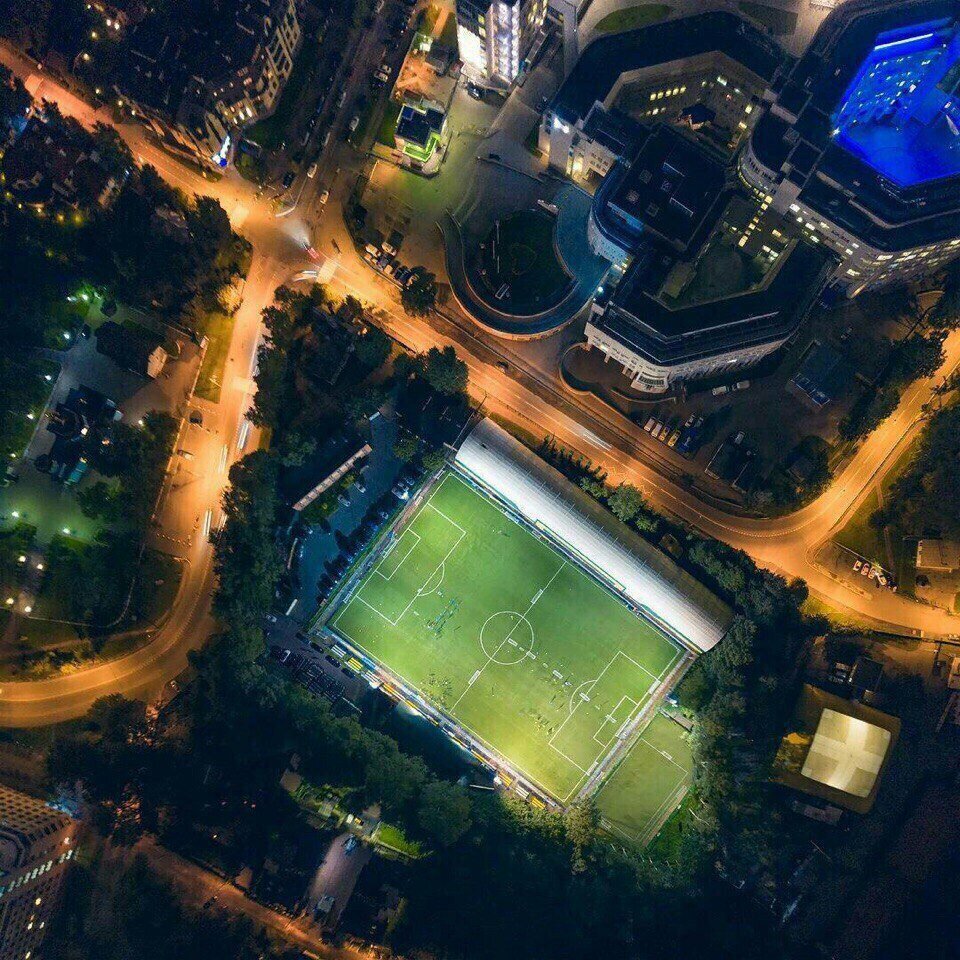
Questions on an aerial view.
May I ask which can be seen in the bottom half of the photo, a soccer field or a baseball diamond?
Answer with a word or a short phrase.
soccer field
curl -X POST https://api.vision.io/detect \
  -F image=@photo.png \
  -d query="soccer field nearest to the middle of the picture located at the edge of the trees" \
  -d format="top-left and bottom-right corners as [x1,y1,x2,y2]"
[303,448,716,832]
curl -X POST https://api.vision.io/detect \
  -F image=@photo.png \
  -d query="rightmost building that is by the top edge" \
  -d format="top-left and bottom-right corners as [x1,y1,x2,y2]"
[726,0,960,286]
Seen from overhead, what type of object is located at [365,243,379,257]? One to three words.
vehicle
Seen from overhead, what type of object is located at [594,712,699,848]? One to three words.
soccer field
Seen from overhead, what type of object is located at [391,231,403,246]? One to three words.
vehicle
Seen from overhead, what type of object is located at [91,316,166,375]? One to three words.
house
